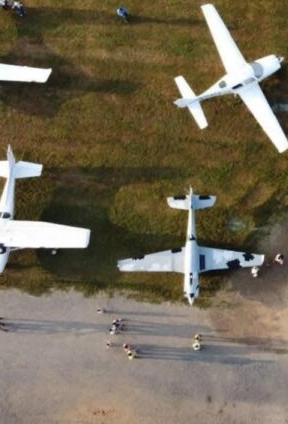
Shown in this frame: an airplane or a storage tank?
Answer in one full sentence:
The one in the frame is an airplane.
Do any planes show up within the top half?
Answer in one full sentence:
Yes, you'll find a plane within the top half.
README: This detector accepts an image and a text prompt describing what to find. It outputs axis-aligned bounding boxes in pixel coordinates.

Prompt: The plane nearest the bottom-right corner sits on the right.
[118,184,263,306]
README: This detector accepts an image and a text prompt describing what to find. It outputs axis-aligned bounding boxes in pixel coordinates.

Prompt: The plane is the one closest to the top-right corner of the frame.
[171,4,287,152]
